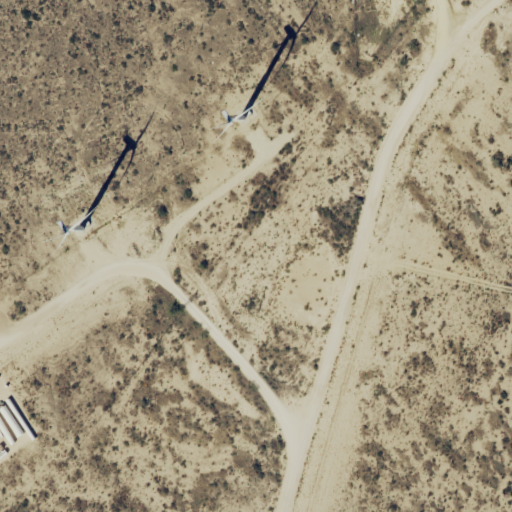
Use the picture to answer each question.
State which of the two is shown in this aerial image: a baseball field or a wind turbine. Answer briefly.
wind turbine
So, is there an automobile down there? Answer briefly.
No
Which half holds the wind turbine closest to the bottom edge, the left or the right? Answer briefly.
left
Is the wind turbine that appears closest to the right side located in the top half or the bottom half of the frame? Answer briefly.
top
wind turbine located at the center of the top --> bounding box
[216,102,260,144]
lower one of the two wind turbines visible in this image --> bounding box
[48,214,94,256]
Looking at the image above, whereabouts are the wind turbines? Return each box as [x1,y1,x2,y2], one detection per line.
[216,102,260,144]
[48,214,94,256]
